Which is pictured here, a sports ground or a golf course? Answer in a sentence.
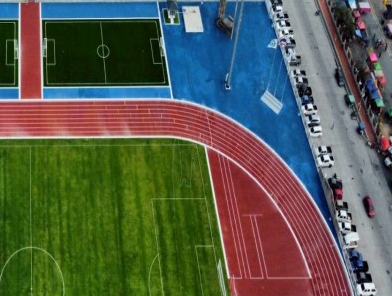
It's a sports ground.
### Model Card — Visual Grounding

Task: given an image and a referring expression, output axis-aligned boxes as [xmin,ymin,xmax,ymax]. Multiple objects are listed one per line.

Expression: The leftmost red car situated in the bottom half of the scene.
[330,188,346,201]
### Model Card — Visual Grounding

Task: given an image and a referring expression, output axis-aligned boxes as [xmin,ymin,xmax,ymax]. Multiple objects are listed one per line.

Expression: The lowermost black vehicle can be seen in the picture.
[352,269,374,284]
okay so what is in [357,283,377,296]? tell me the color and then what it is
white vehicle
